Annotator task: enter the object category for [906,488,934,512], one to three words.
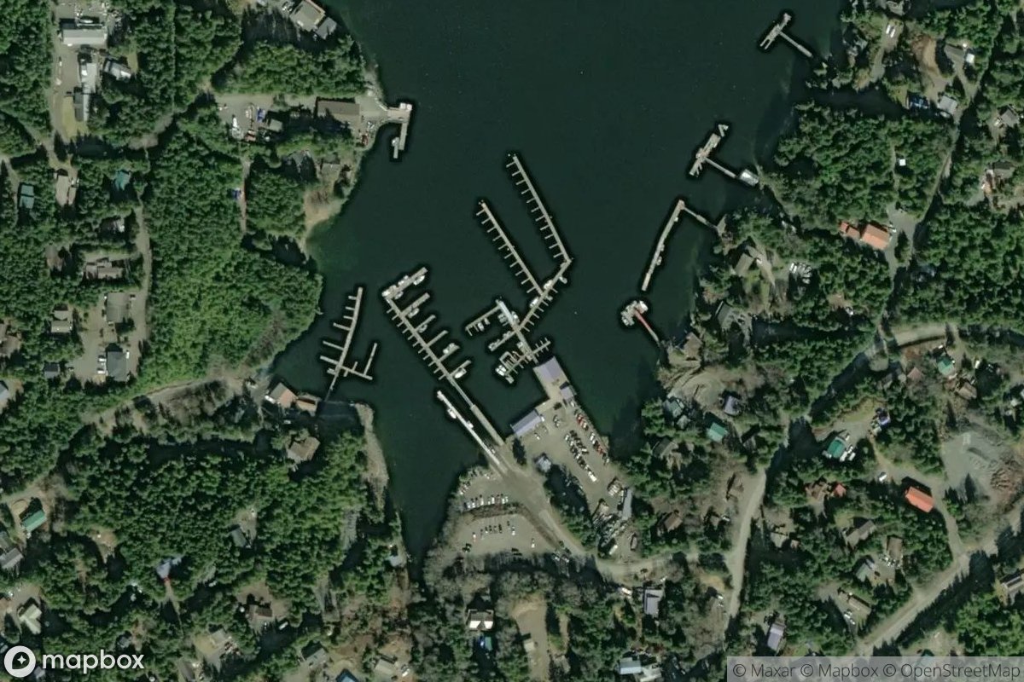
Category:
barn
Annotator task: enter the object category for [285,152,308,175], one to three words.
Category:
house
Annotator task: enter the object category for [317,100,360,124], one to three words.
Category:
building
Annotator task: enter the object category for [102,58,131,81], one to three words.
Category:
house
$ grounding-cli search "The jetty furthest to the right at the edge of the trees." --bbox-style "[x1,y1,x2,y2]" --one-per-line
[760,15,813,57]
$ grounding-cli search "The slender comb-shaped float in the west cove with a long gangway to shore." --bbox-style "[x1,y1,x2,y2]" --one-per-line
[320,287,377,402]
